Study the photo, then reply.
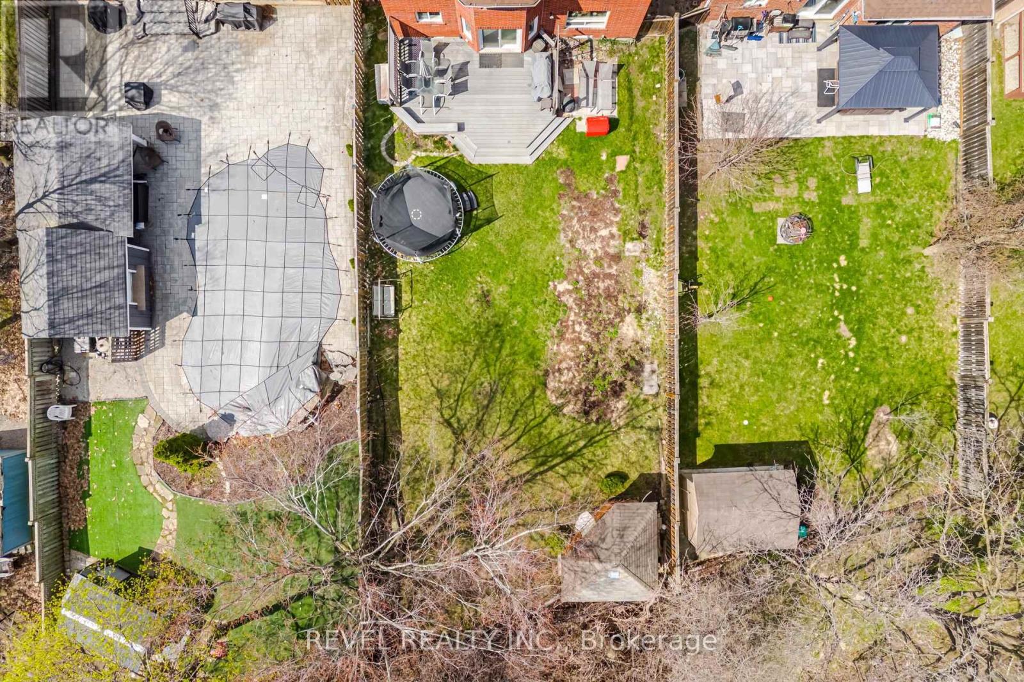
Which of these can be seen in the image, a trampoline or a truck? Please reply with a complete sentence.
This aerial view contains a trampoline.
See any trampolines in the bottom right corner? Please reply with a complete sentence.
No, there is no trampoline in the bottom right corner.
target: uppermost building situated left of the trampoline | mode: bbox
[13,114,152,338]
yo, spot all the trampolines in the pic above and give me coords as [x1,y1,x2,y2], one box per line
[368,158,465,264]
